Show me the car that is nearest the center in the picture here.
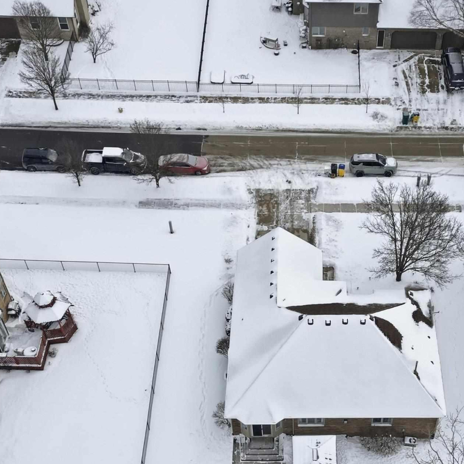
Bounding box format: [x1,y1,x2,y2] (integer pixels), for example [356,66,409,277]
[157,150,209,174]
